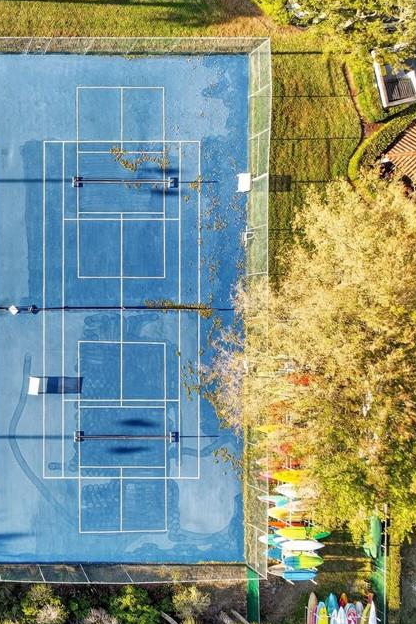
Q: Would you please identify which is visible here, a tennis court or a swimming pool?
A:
tennis court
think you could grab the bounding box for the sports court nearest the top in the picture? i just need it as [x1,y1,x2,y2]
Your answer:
[77,87,165,278]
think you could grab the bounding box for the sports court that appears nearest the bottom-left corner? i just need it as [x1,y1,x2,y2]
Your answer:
[79,341,167,532]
